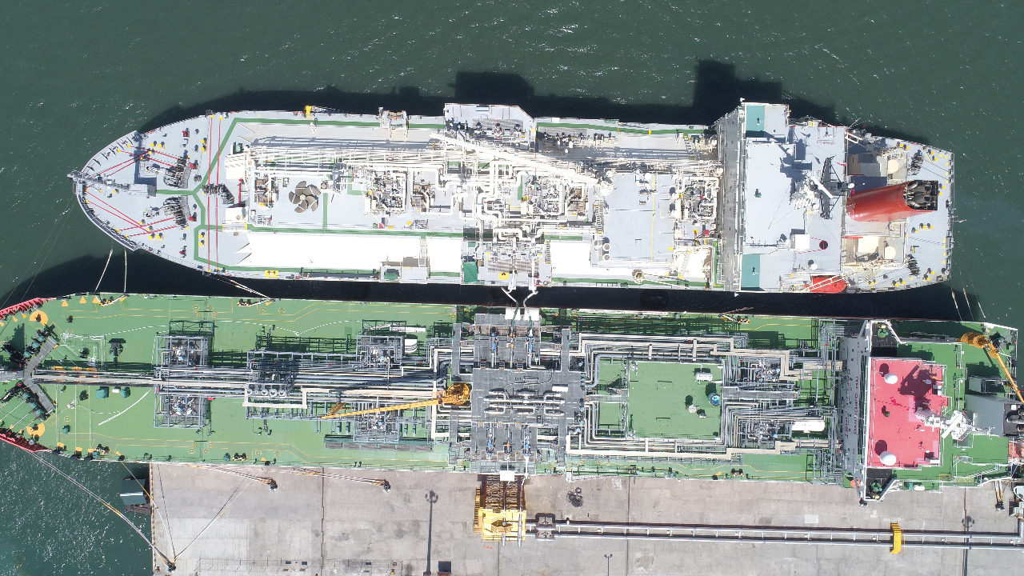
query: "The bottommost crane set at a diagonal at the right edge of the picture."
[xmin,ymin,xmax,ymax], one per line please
[940,331,1024,401]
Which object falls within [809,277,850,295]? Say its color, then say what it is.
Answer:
red boat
